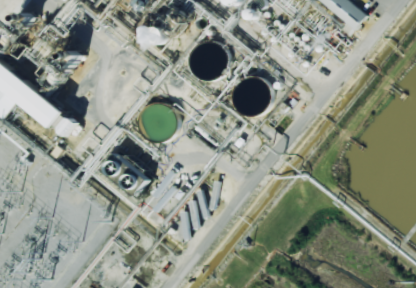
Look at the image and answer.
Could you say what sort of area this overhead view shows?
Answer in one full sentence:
The picture captures an industrial area.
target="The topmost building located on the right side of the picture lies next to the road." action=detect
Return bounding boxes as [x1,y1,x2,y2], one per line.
[316,0,369,33]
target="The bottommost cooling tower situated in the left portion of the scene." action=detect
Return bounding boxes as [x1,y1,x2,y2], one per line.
[96,154,157,206]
